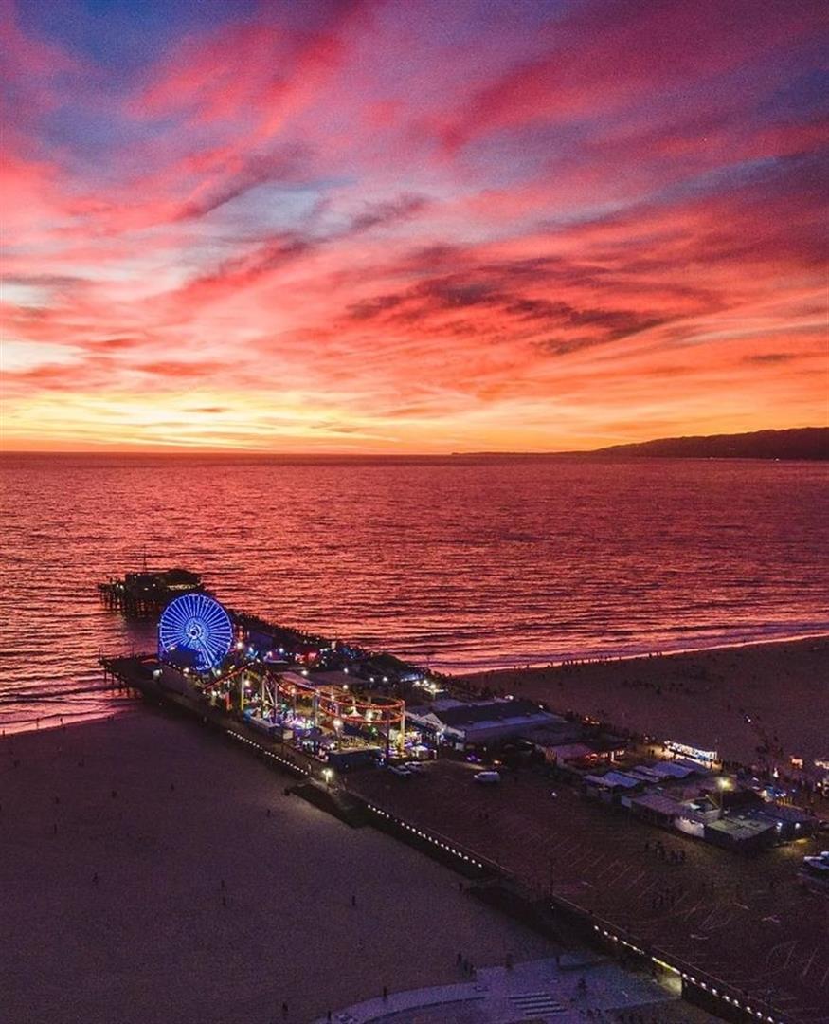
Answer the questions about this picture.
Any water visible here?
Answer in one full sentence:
Yes, there is water in the image.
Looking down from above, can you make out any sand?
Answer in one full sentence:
Yes, sand can be seen from above here.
